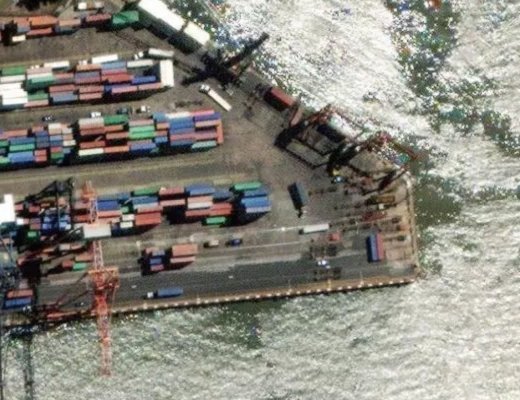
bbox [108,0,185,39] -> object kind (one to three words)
shed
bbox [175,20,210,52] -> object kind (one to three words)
shed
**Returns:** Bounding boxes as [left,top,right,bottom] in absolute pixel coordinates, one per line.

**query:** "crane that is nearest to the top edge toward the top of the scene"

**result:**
[200,29,273,95]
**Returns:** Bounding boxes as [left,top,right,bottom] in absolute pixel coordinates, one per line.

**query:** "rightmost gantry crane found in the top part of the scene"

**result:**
[352,112,427,178]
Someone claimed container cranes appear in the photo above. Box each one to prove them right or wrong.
[200,29,273,95]
[301,88,380,156]
[352,112,427,178]
[45,181,116,376]
[35,179,75,253]
[0,237,12,400]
